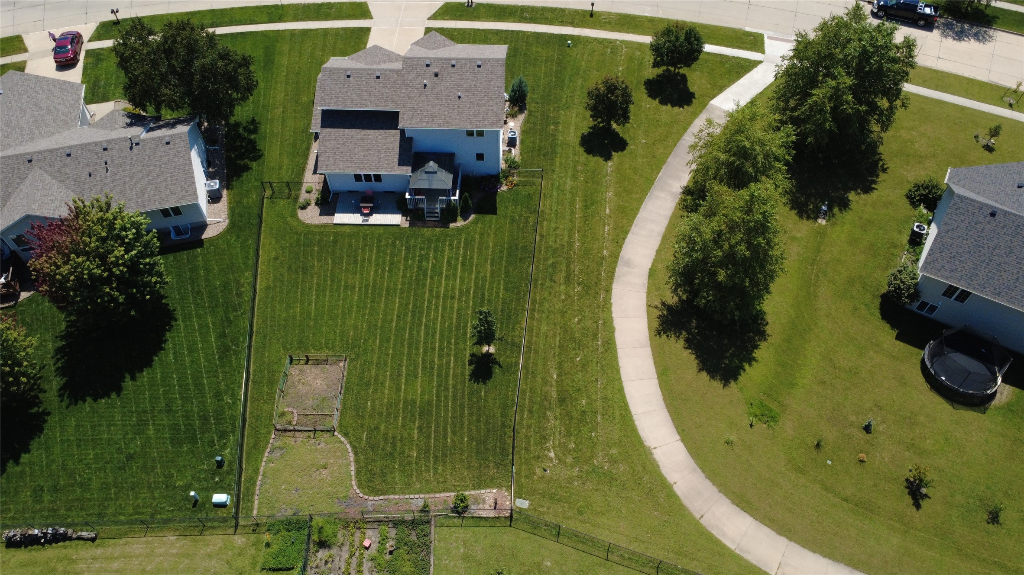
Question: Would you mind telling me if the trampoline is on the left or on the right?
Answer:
right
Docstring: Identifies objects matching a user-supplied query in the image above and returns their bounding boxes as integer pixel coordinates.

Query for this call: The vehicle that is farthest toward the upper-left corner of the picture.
[50,30,82,64]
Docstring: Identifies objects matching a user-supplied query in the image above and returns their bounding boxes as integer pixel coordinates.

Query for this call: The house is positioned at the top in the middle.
[313,29,508,206]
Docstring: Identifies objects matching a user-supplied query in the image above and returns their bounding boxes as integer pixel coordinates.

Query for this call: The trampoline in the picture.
[918,314,1024,402]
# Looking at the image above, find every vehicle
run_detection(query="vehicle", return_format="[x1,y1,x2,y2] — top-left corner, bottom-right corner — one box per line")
[50,30,82,64]
[872,0,940,26]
